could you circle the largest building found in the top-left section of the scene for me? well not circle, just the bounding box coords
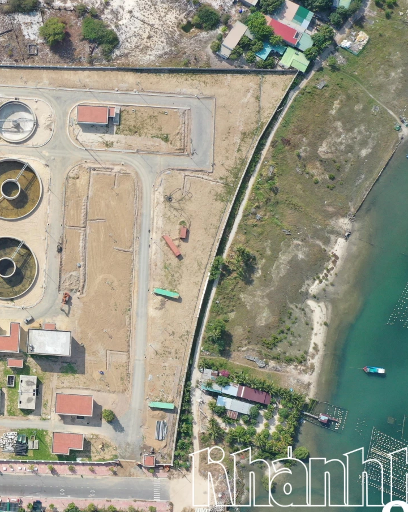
[76,106,108,126]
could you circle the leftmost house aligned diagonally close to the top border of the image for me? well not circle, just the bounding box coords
[216,21,248,60]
